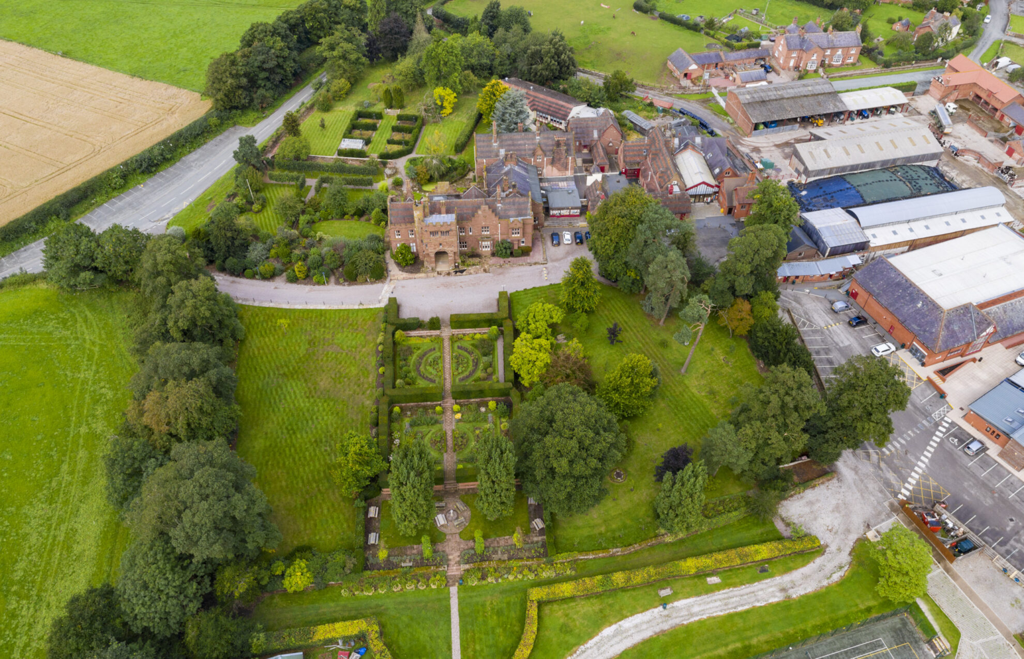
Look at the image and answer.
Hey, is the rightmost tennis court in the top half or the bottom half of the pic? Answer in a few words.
bottom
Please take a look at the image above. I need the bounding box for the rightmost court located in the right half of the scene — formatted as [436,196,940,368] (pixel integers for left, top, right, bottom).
[765,615,931,659]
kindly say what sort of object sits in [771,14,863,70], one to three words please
house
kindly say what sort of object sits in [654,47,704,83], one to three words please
shed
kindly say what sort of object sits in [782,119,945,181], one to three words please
building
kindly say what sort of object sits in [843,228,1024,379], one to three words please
building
